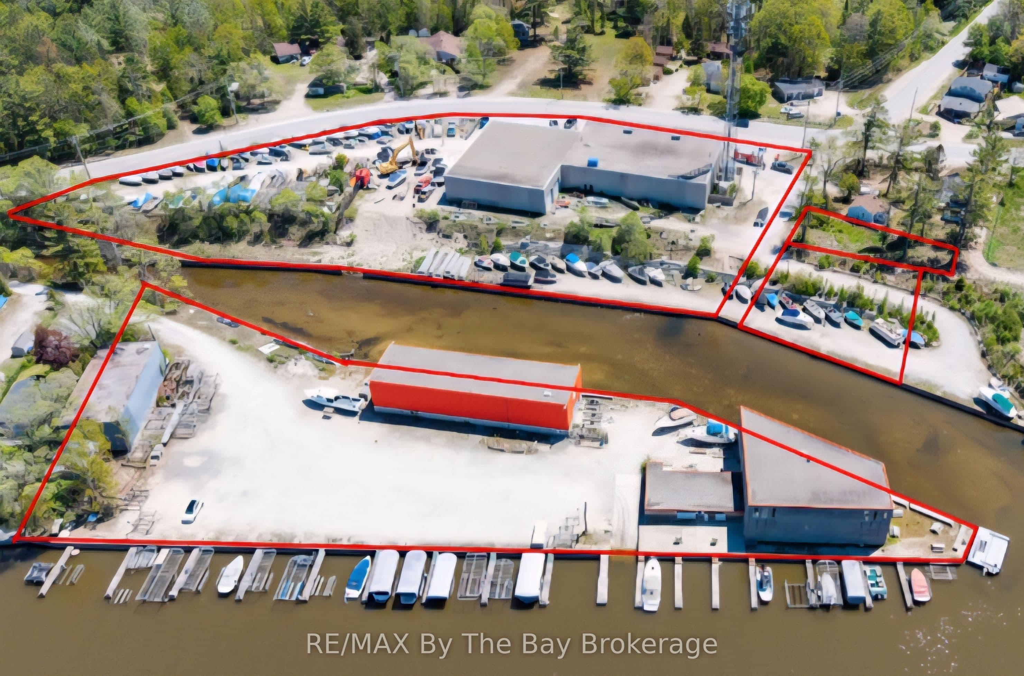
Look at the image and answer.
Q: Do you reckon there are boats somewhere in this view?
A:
Yes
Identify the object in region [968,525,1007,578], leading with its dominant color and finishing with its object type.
white boat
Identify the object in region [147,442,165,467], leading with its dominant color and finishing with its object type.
white vehicle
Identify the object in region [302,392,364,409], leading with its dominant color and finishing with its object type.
white boat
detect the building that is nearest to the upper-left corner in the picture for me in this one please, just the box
[274,38,300,64]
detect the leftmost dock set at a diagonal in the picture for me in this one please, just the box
[38,548,74,596]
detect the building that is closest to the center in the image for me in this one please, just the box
[366,341,587,436]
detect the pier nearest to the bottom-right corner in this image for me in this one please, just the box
[897,566,915,609]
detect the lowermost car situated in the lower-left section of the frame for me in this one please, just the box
[181,498,203,524]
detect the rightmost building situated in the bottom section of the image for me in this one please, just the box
[739,405,893,550]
